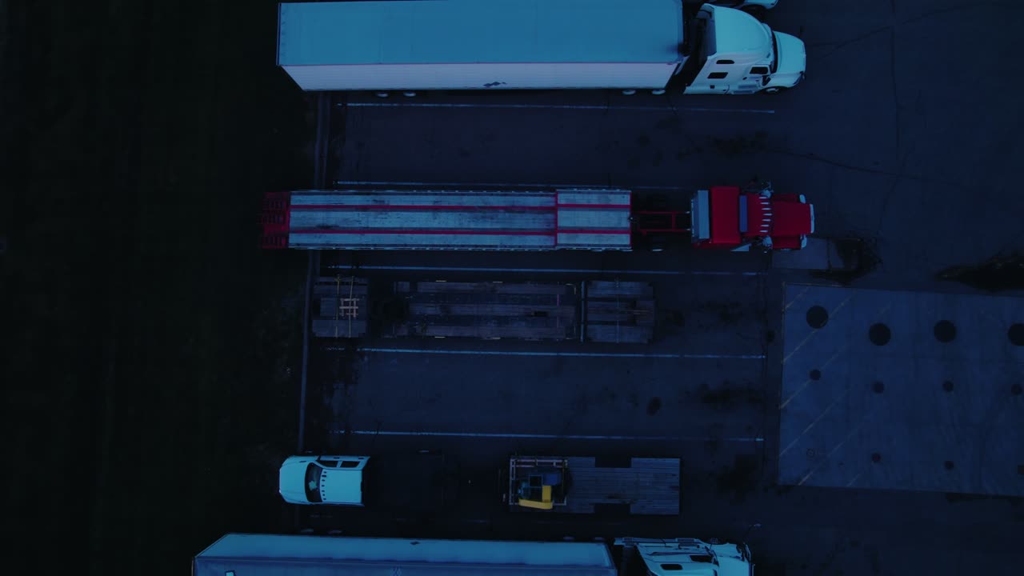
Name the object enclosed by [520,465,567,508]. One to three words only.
work vehicle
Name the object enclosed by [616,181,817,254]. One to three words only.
truck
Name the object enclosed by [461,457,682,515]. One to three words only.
trailer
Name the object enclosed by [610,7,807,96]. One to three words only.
truck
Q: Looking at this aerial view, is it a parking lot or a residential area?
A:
parking lot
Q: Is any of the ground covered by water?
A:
No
